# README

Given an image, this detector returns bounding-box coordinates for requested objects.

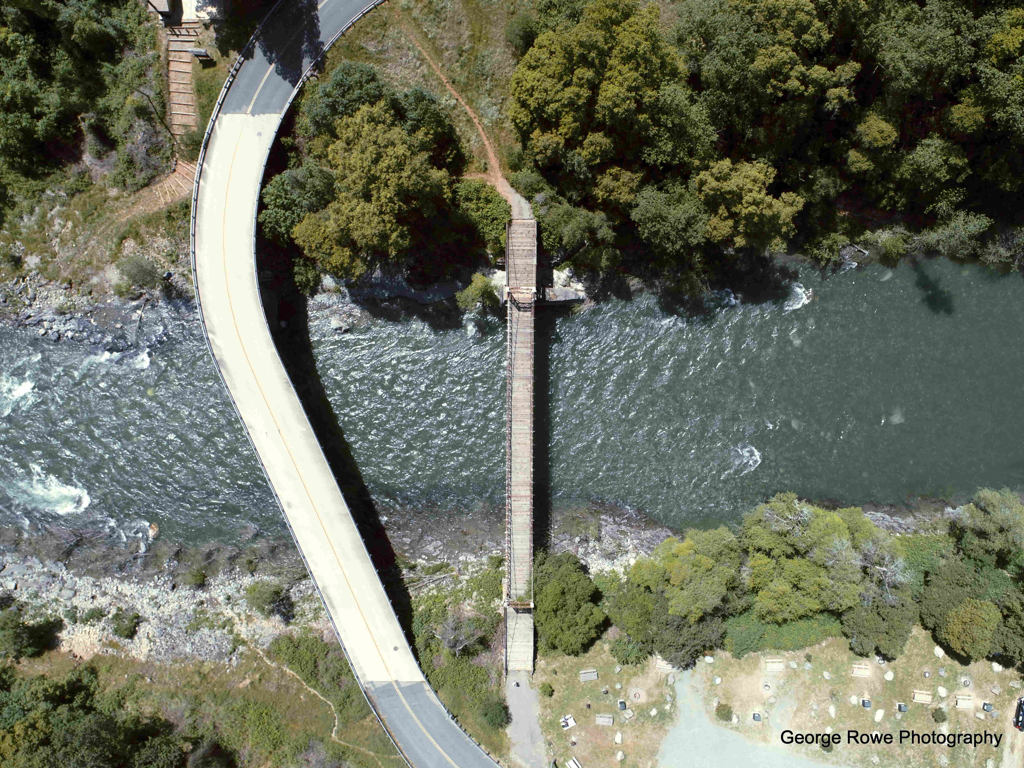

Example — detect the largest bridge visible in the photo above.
[190,87,440,702]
